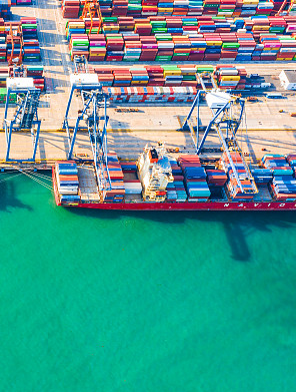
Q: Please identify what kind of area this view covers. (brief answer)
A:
port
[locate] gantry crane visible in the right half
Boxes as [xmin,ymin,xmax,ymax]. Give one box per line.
[178,49,264,185]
